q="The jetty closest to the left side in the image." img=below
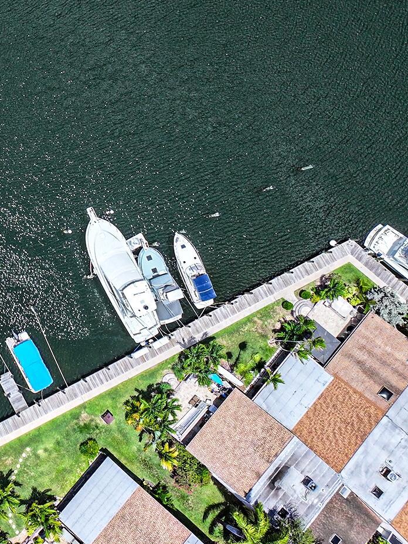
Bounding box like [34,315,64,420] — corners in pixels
[0,371,28,413]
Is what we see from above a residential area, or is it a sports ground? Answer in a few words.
residential area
